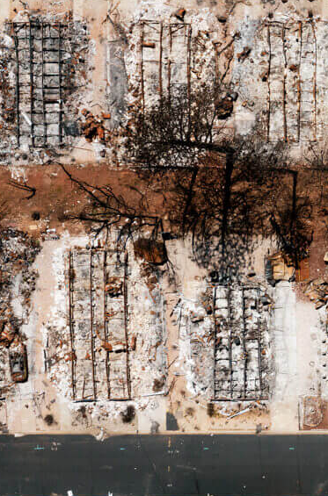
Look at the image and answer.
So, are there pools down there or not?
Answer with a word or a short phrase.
No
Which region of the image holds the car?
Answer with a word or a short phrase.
bottom left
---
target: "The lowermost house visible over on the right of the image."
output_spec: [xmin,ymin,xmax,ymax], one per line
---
[209,283,273,410]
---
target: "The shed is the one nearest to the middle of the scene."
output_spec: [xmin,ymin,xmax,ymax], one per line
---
[127,239,165,264]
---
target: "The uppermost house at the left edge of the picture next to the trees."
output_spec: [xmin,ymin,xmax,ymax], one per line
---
[5,19,71,148]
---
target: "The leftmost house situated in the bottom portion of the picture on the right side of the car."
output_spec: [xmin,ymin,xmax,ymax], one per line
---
[66,247,139,402]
